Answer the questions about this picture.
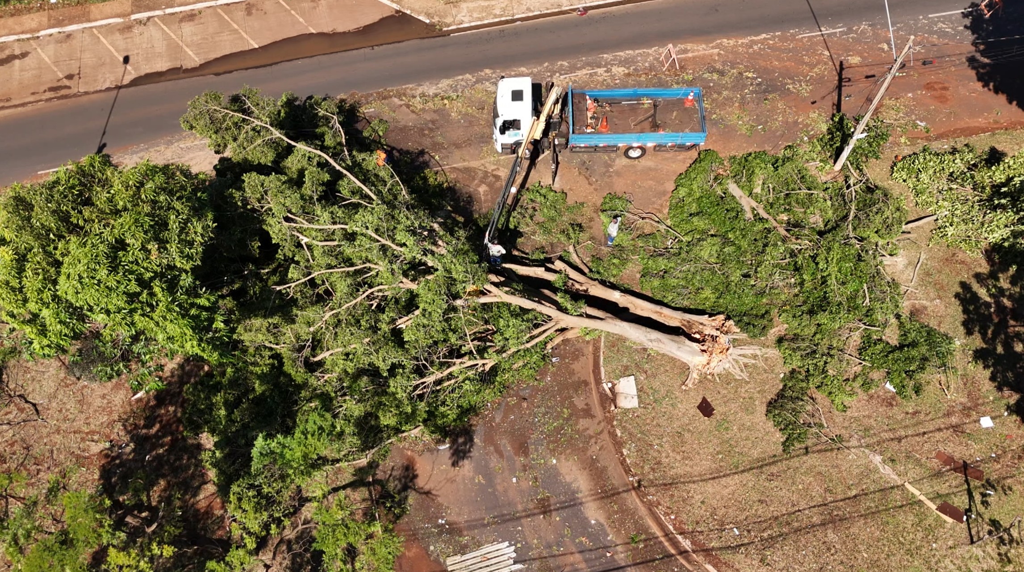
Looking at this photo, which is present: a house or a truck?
truck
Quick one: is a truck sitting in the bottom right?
No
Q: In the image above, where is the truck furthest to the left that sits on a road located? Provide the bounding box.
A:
[484,81,709,280]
